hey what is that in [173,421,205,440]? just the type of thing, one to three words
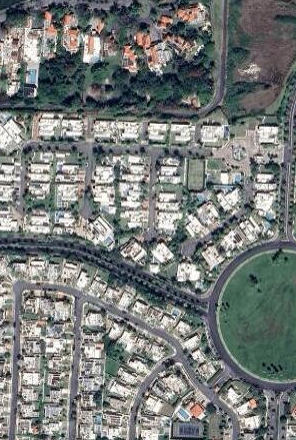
tennis court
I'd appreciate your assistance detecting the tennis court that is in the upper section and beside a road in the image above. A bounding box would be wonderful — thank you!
[188,159,204,190]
